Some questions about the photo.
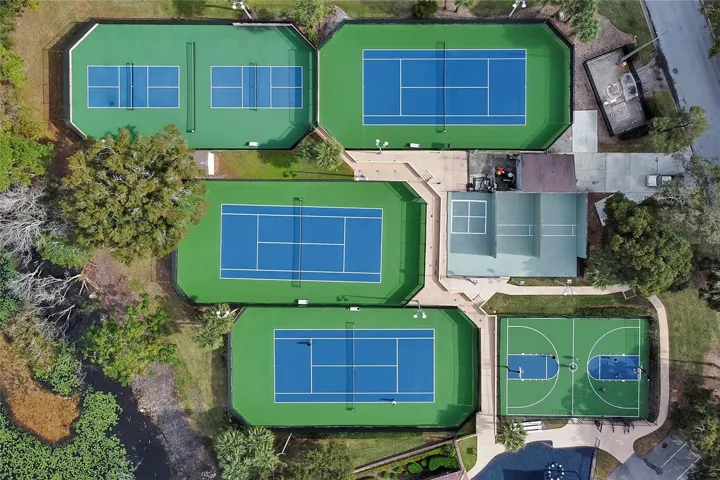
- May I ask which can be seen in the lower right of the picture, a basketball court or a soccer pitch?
basketball court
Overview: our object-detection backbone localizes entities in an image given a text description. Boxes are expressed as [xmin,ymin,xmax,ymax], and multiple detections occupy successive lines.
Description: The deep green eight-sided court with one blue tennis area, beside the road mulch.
[319,22,571,150]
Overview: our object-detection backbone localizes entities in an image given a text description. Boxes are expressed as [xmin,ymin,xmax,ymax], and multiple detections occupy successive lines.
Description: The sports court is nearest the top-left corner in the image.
[71,24,317,149]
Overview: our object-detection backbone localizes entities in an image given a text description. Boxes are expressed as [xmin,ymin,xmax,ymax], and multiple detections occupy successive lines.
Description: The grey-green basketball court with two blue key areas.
[500,316,648,418]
